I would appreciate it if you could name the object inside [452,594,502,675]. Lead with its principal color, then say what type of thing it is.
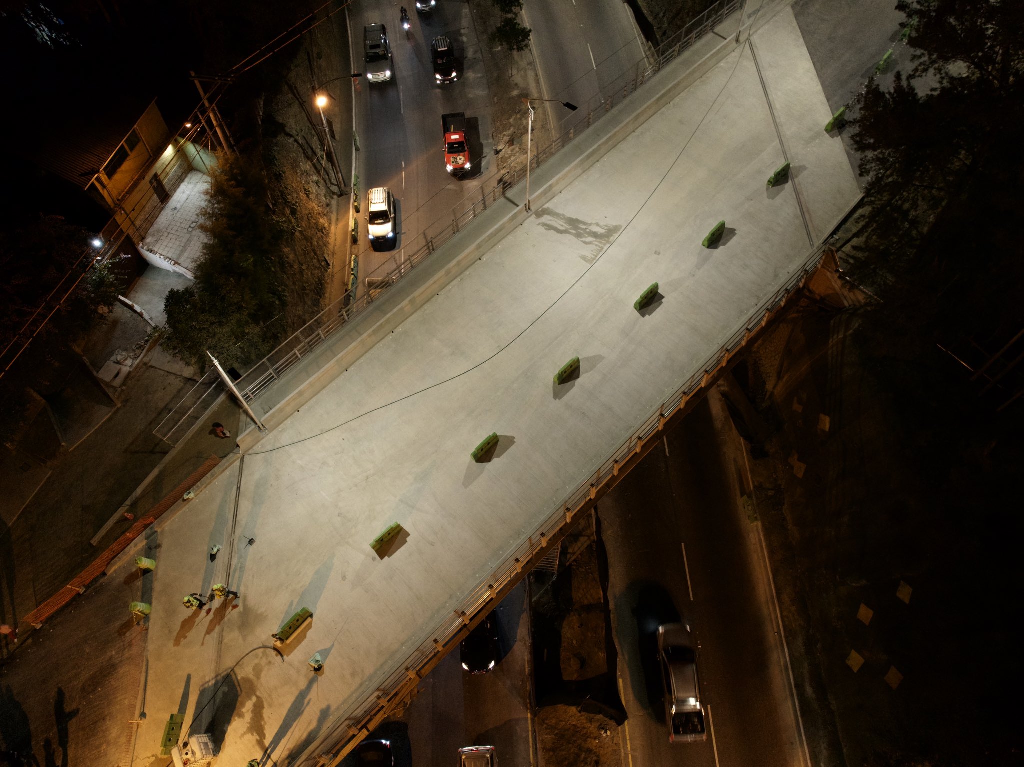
black car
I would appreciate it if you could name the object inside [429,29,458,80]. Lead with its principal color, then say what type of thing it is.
black car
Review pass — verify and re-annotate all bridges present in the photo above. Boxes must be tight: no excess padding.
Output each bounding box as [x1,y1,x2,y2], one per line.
[205,0,861,767]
